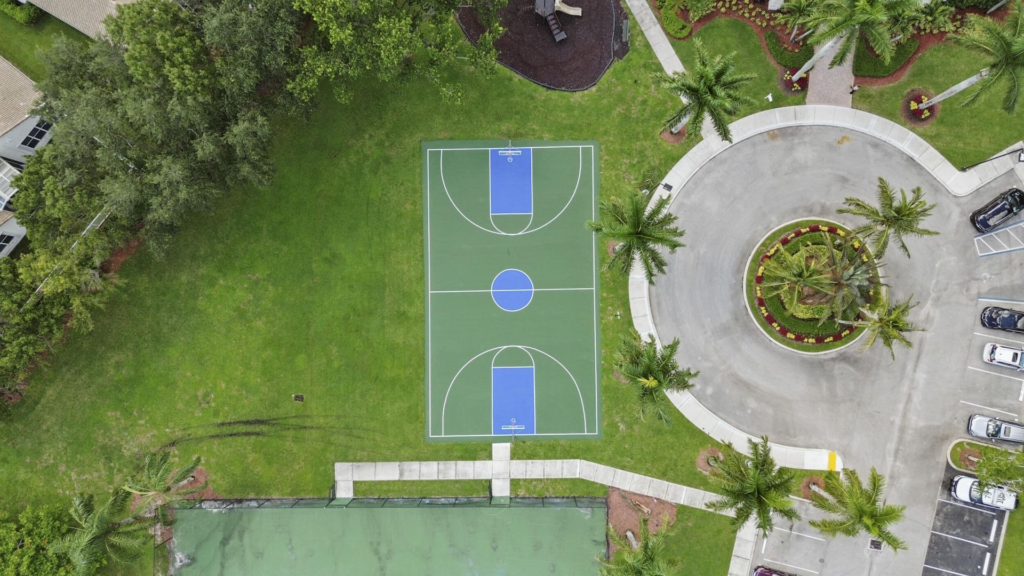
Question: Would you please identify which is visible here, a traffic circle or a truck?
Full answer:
Visible in the photo is a traffic circle.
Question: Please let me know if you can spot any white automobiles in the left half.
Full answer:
No, no white automobile is visible in the left half.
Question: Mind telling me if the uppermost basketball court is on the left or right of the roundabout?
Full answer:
The uppermost basketball court is to the left of the roundabout.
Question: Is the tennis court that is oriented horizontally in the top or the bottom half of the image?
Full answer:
The tennis court that is oriented horizontally is in the bottom half of the image.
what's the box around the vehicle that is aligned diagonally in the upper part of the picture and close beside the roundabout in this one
[973,189,1024,232]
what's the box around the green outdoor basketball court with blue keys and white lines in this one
[422,140,602,442]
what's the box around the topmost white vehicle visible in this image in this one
[982,343,1024,374]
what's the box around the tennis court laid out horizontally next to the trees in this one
[171,496,606,576]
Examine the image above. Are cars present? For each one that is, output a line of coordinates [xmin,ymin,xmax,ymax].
[982,343,1024,374]
[973,189,1024,232]
[968,417,1024,448]
[954,475,1019,510]
[981,306,1024,333]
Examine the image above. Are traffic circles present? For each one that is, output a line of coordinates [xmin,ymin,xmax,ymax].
[654,131,963,440]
